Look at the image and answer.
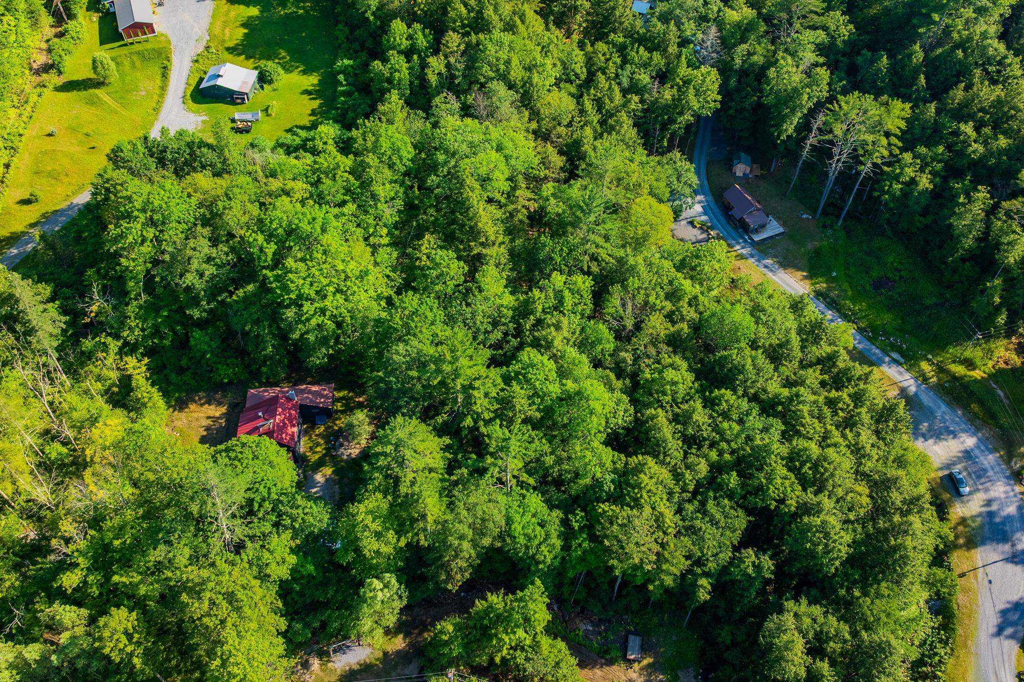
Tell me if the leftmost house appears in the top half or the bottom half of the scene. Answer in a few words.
top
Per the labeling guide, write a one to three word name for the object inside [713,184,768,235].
building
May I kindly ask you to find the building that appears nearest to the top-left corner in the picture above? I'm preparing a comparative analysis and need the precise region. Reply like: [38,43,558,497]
[96,0,157,39]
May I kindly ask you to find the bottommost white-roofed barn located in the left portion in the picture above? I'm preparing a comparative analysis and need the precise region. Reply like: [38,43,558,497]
[199,61,264,102]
